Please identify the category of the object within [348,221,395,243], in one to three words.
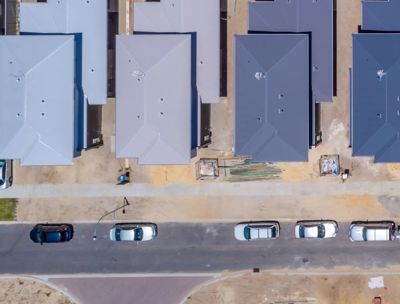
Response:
truck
